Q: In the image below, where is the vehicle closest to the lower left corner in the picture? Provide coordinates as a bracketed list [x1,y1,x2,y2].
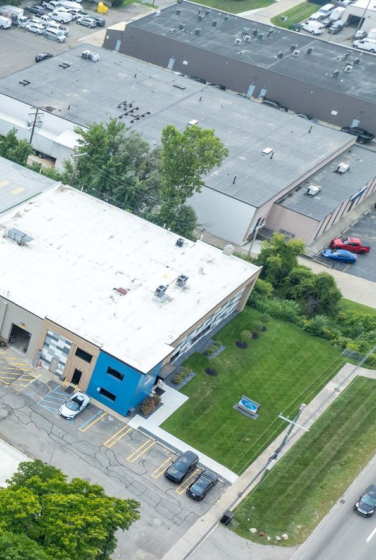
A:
[57,391,91,420]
